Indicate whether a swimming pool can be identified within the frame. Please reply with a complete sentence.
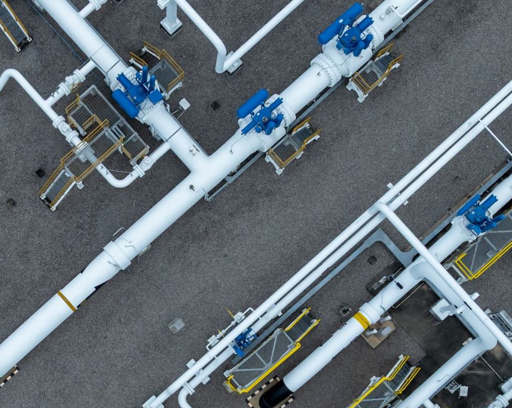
No, I find no swimming pool anywhere in the image.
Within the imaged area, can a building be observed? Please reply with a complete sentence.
No, no building can be seen from above.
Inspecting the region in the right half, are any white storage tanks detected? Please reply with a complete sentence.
No, no white storage tank can be made out in the right half.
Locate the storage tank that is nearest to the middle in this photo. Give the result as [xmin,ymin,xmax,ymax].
[238,89,267,117]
